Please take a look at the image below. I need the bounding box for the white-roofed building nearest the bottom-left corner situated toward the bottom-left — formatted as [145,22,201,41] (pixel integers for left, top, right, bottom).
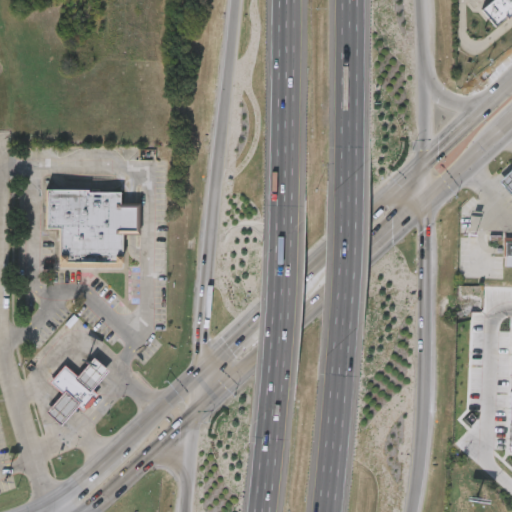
[50,366,98,411]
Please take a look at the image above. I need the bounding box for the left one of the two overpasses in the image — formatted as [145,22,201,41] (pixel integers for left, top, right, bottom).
[246,172,306,476]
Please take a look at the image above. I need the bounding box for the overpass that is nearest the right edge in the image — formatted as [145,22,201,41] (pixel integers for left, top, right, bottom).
[316,113,371,406]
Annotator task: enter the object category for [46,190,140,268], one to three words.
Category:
building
